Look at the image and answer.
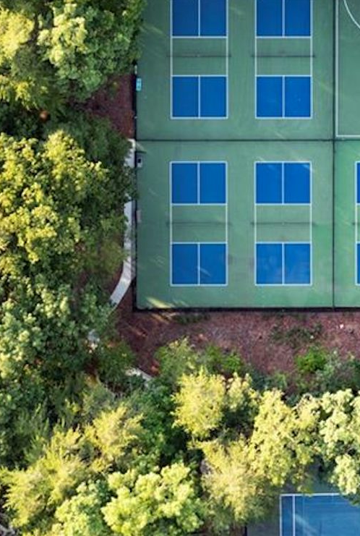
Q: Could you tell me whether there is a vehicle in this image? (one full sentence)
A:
No, I can't see a single vehicle in this photo.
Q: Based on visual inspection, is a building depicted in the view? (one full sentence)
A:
No, I can see no building in this picture.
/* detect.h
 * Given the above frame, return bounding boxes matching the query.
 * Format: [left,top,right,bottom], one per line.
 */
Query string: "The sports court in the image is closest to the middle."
[170,162,228,286]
